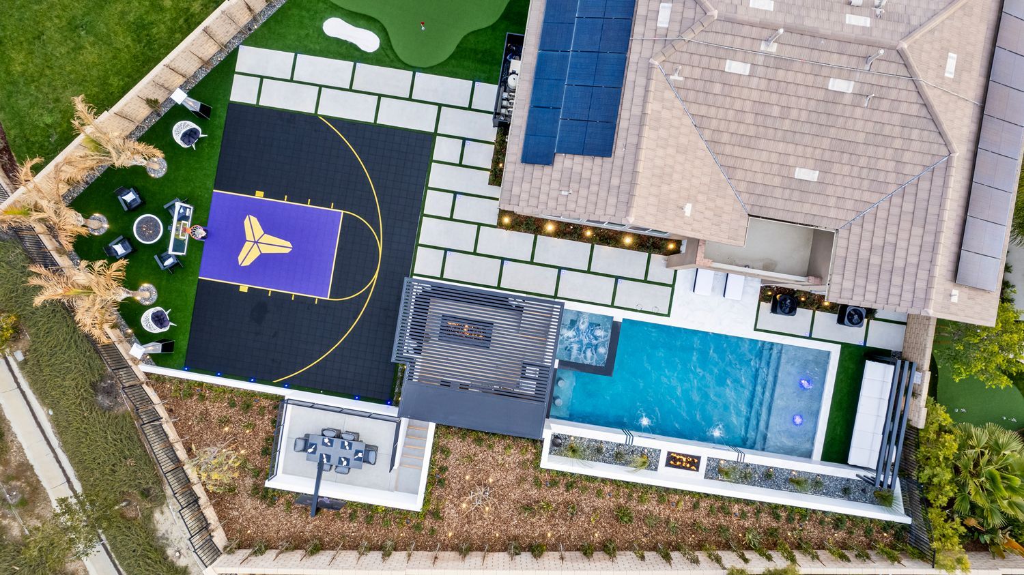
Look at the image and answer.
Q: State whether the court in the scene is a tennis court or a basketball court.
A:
basketball court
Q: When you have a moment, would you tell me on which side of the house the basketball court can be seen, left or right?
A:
on its left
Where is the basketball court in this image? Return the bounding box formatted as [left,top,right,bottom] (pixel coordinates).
[187,103,433,401]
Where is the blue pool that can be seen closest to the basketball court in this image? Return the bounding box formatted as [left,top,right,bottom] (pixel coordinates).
[413,276,842,462]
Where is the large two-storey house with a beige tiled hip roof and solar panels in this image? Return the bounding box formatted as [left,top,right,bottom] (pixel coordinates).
[496,0,1024,329]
